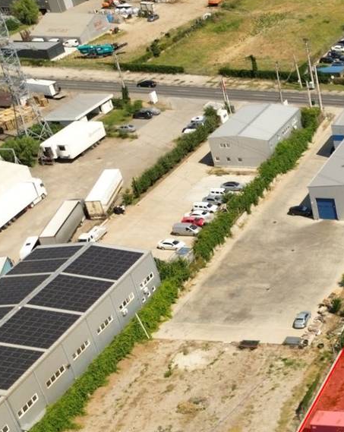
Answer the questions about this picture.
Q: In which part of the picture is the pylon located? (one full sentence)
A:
The pylon appears toward the top left of the photo.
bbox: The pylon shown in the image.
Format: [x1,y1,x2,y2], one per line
[0,8,55,133]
